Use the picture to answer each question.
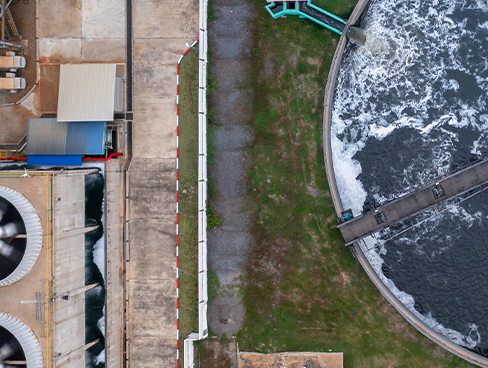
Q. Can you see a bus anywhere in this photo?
No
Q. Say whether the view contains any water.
Yes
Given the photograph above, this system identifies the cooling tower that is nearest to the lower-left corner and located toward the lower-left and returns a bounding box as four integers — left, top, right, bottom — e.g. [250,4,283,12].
[0,168,99,368]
